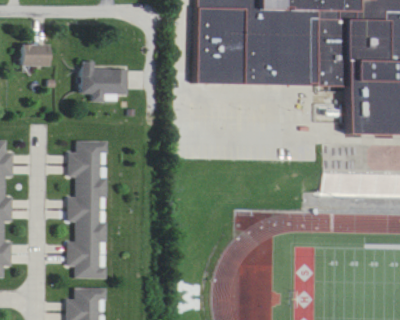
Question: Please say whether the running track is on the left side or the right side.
right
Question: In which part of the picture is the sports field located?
bottom right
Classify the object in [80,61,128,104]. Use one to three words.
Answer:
house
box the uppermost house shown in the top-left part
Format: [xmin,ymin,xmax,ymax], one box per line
[21,44,54,66]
